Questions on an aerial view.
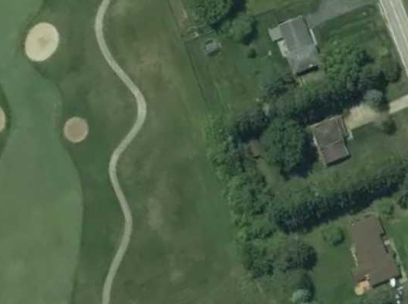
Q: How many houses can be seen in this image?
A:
3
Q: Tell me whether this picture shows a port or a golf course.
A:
golf course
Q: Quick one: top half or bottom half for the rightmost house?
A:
bottom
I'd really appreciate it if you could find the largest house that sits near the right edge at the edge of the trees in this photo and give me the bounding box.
[348,215,406,287]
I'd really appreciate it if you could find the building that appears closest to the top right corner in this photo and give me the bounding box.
[270,17,319,74]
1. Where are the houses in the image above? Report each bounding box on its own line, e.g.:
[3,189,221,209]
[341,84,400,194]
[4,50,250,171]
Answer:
[348,215,406,287]
[310,116,351,164]
[270,17,319,74]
